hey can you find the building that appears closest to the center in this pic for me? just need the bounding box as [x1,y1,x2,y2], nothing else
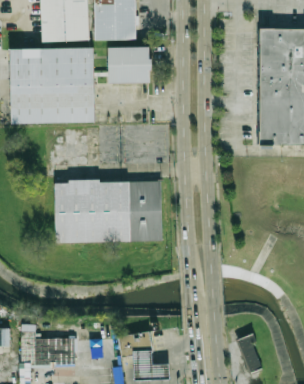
[55,182,162,244]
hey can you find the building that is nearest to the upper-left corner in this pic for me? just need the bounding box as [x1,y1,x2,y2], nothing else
[40,0,90,42]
